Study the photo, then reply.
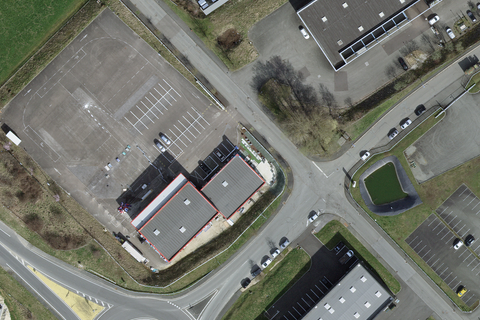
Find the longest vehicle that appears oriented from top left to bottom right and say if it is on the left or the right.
left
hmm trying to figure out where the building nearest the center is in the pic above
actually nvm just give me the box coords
[202,154,266,218]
